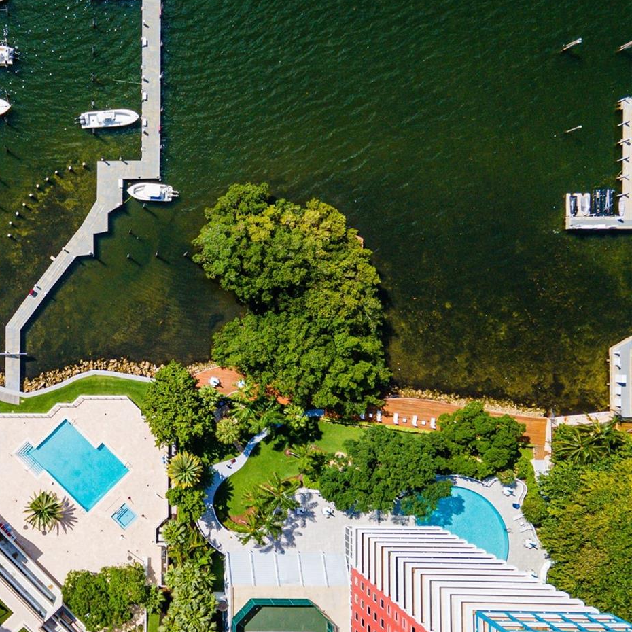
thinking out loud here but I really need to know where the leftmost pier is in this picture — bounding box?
[5,0,160,396]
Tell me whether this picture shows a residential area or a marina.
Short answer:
marina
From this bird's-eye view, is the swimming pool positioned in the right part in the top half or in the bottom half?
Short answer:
bottom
